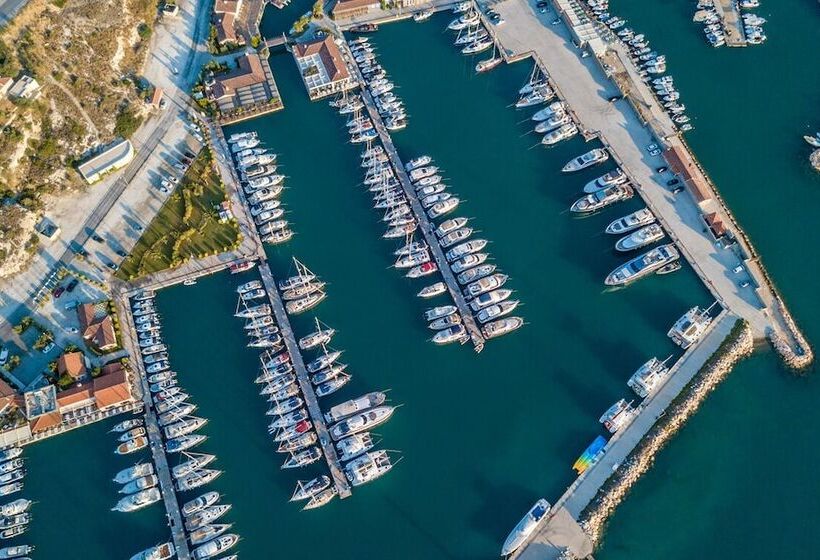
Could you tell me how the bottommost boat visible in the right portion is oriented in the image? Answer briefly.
diagonally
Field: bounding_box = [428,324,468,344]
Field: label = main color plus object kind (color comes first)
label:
white boat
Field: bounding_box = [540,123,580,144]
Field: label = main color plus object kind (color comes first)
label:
white boat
